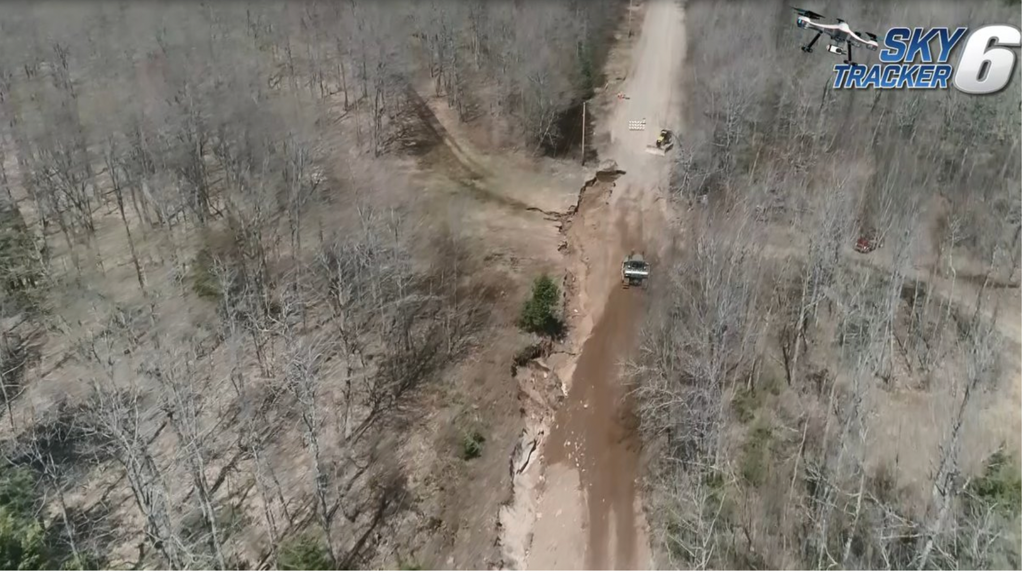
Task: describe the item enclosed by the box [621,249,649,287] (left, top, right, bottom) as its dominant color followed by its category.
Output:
gray work vehicle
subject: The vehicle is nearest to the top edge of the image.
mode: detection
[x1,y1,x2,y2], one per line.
[650,127,677,156]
